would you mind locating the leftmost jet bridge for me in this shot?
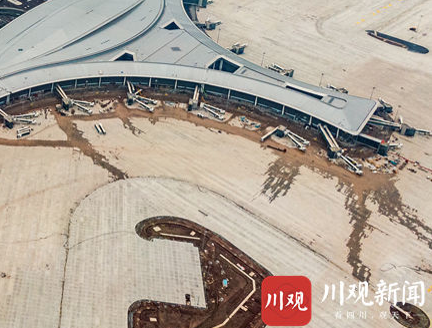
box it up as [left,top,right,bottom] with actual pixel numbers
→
[0,109,40,129]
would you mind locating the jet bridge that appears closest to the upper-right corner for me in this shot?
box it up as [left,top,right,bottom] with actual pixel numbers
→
[376,97,392,115]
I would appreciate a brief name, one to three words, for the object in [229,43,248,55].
jet bridge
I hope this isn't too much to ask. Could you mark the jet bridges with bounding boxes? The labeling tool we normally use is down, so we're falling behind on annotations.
[369,114,432,139]
[357,133,405,157]
[195,22,223,32]
[320,128,365,171]
[376,97,392,115]
[126,83,158,113]
[184,0,215,9]
[266,63,293,77]
[229,43,248,55]
[58,89,95,116]
[259,128,312,151]
[0,109,40,129]
[188,90,227,122]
